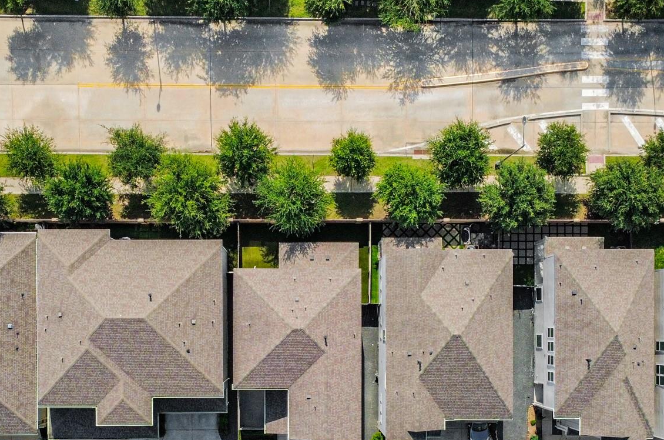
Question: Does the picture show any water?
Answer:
No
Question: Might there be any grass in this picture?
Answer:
Yes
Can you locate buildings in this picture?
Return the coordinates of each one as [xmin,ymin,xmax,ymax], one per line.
[36,228,228,440]
[531,236,655,440]
[381,236,514,440]
[233,242,362,440]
